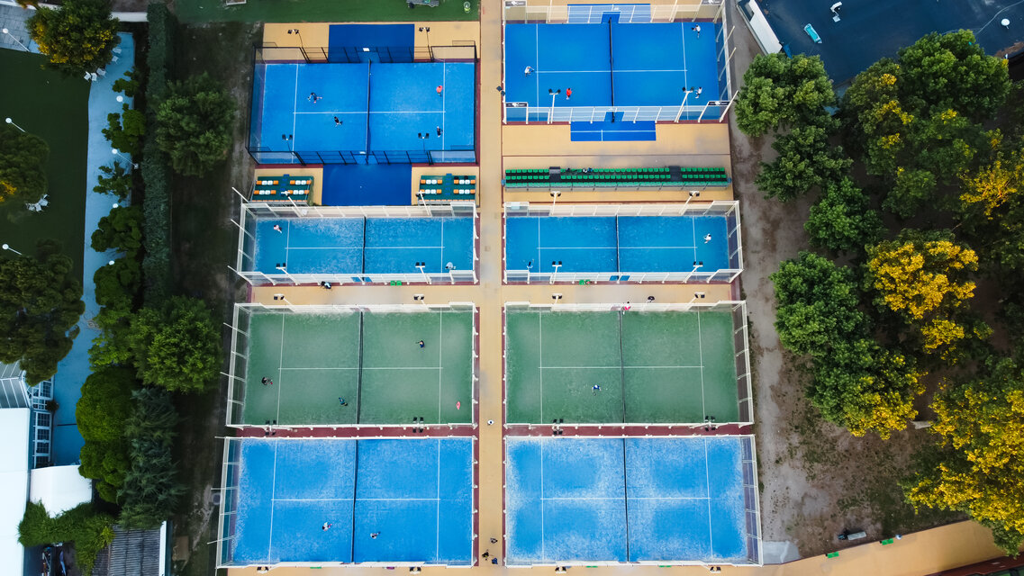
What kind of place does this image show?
sports ground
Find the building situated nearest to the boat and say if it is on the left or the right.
right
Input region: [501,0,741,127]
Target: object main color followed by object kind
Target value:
blue sports court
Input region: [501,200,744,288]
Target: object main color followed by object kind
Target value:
blue sports court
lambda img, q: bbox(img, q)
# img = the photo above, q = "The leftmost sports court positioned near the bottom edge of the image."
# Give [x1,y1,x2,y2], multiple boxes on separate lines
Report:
[203,435,479,572]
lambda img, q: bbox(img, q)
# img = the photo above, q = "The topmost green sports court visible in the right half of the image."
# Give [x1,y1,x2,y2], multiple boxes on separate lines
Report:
[501,299,755,429]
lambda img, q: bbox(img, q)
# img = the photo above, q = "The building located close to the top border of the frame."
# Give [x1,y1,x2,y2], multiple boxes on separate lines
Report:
[732,0,783,58]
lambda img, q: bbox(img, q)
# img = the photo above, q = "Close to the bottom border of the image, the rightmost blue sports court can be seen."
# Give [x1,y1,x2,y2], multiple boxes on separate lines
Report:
[502,434,764,569]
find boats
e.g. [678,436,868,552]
[805,24,824,43]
